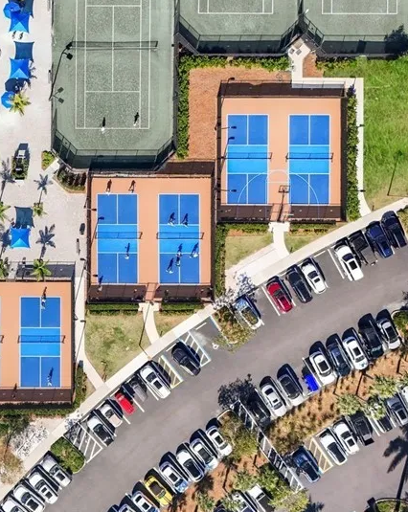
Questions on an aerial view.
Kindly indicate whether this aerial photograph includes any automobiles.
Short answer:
Yes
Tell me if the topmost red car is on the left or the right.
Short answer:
right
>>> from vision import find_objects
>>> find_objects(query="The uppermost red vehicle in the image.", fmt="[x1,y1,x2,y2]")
[268,281,295,314]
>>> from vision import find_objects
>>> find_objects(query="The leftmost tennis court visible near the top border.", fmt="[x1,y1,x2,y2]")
[53,0,176,169]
